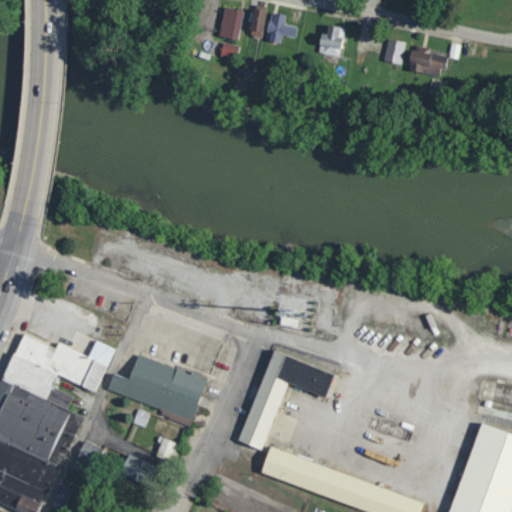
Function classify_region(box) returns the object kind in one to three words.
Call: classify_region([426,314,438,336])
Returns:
vehicle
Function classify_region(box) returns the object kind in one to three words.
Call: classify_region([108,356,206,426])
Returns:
building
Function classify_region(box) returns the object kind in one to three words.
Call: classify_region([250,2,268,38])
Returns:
house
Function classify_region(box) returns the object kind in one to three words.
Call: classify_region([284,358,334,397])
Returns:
building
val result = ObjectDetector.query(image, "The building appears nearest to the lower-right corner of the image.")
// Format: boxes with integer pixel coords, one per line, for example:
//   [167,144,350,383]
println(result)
[447,423,512,512]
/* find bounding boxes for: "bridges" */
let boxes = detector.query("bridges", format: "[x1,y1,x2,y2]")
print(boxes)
[0,0,68,232]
